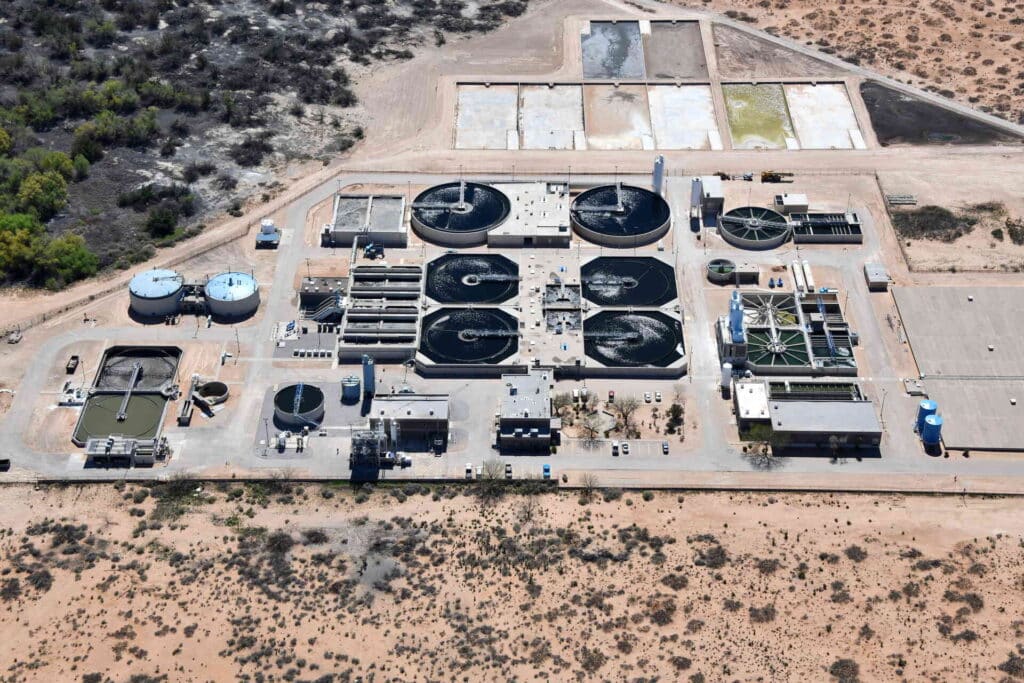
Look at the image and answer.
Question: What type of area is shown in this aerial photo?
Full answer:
What you see here is an industrial area.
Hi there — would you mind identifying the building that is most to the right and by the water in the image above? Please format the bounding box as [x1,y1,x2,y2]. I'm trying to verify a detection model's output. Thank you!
[863,263,893,289]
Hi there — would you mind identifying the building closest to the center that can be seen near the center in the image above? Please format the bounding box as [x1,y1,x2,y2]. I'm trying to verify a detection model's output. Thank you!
[500,368,561,450]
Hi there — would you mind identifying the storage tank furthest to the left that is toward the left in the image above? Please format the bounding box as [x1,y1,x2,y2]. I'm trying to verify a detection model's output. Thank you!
[129,267,187,318]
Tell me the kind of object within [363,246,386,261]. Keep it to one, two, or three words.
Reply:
vehicle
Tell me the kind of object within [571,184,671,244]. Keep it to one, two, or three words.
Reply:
storage tank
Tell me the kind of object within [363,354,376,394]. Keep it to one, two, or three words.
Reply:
silo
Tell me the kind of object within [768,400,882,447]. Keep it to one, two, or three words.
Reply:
building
